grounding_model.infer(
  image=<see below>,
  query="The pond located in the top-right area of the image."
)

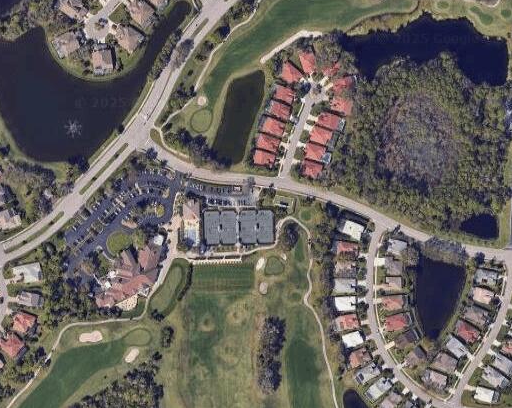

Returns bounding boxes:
[343,13,510,87]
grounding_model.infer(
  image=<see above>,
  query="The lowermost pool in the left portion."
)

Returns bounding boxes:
[184,220,199,247]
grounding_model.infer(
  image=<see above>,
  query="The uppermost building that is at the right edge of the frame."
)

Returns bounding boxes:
[473,266,498,285]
